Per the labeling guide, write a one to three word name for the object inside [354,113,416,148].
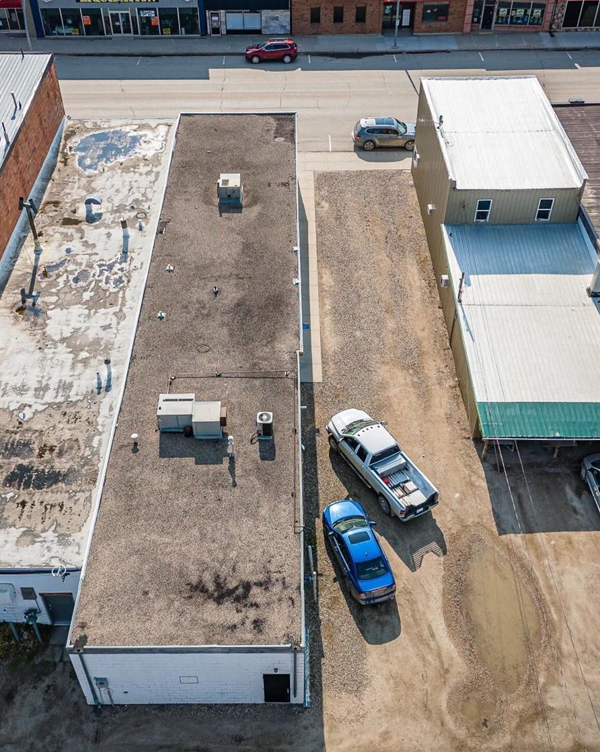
car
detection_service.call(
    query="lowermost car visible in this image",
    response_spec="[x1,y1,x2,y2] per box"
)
[324,501,402,605]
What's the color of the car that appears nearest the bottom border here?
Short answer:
blue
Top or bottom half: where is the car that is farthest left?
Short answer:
top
